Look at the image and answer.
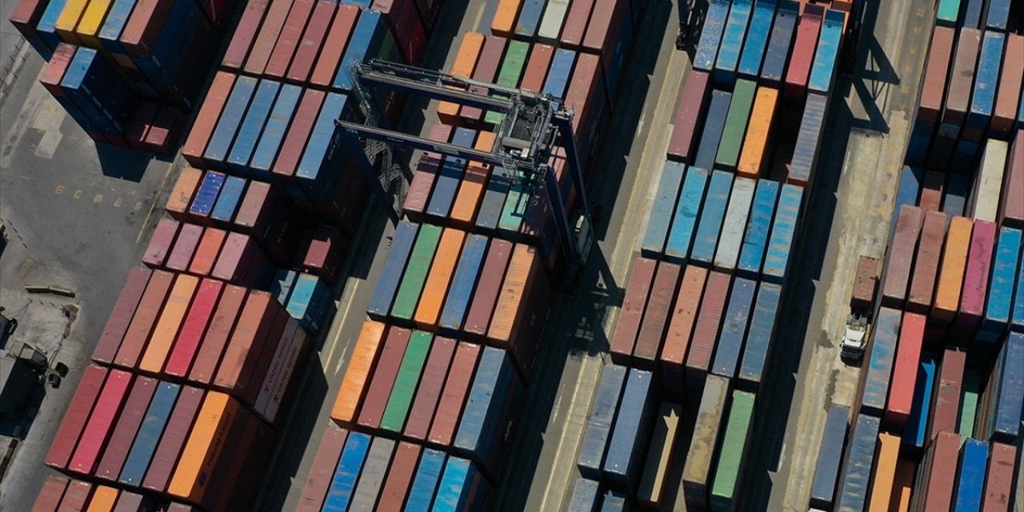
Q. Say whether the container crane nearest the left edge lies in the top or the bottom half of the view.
top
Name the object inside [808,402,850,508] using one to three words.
shipping container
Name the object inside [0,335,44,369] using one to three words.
trailer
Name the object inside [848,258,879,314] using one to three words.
shipping container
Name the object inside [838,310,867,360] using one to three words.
truck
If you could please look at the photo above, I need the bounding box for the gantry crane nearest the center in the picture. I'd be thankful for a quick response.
[330,47,601,299]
